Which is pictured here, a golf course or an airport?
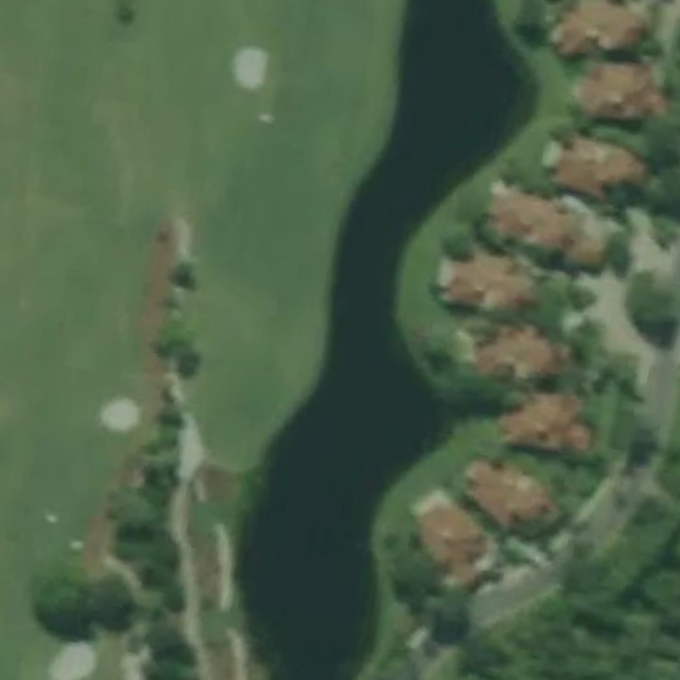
golf course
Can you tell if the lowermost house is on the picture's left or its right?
right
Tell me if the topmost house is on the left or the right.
right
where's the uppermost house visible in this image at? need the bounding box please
[549,0,647,58]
